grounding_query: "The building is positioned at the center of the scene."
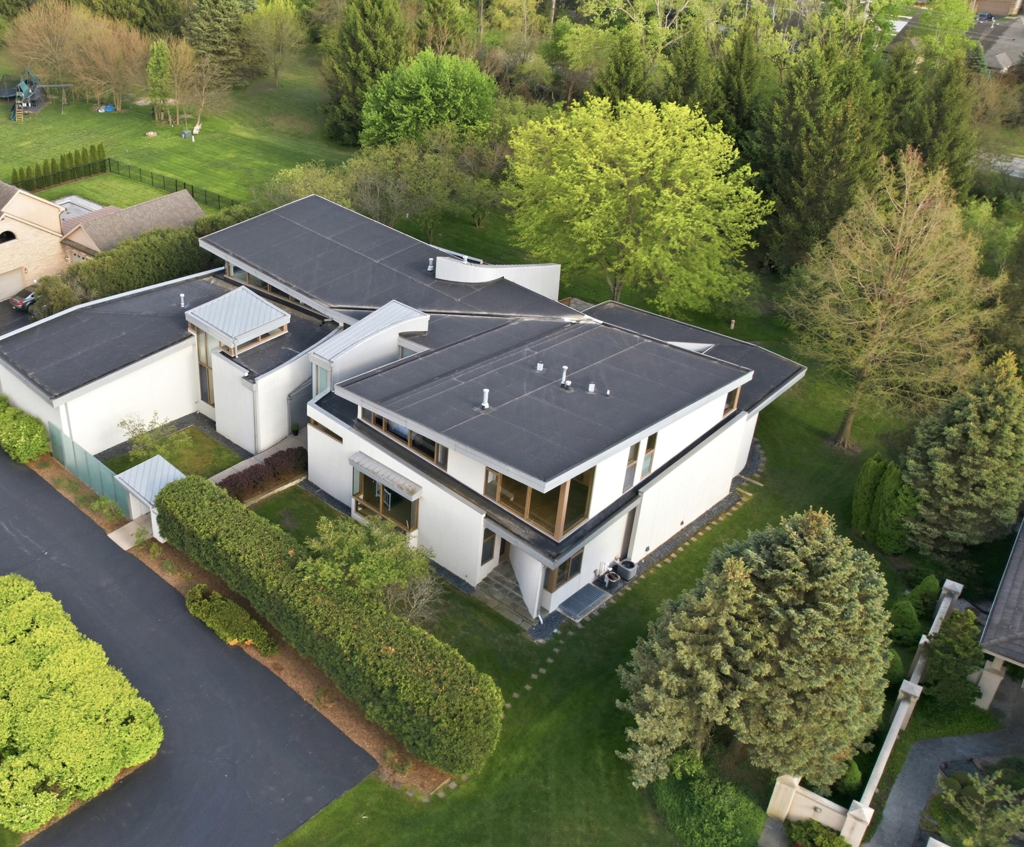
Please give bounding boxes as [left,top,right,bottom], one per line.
[0,194,809,629]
